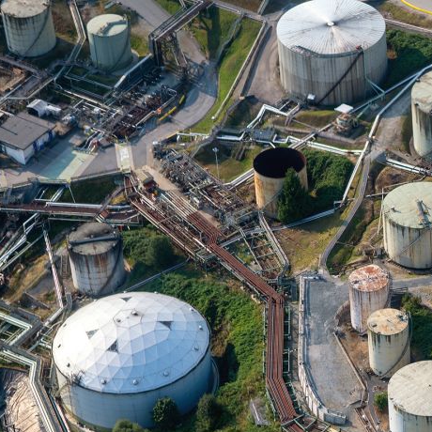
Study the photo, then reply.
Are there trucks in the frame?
No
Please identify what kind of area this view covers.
industrial area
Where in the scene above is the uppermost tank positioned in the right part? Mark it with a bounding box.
[276,0,389,107]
